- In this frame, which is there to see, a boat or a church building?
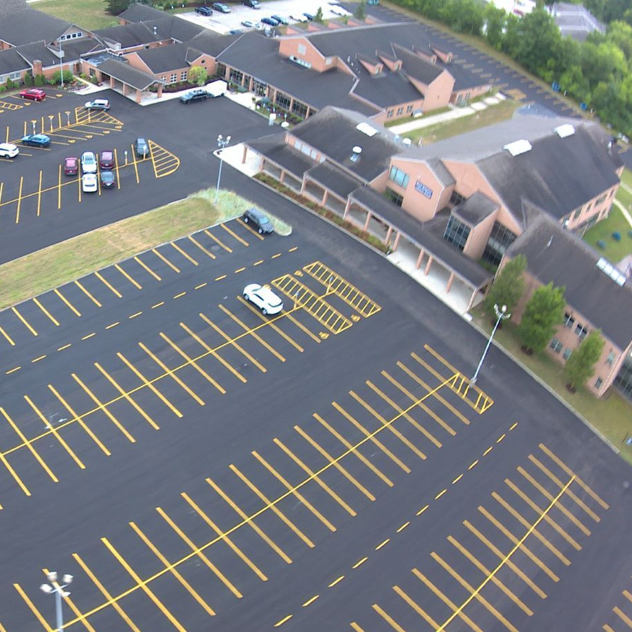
church building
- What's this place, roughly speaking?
parking lot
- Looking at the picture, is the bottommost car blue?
No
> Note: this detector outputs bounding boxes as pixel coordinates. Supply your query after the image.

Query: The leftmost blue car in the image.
[20,133,53,148]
